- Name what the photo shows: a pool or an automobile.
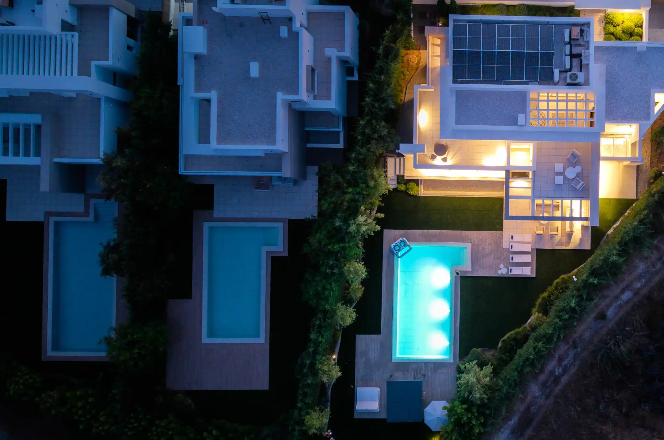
pool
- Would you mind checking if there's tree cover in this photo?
Yes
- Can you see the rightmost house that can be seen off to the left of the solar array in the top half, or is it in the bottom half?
top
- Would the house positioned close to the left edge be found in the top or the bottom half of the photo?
top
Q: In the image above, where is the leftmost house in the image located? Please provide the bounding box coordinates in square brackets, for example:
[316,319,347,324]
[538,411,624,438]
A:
[0,0,144,193]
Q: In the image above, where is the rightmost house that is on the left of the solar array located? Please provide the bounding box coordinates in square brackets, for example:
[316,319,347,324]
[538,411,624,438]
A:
[179,0,359,180]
